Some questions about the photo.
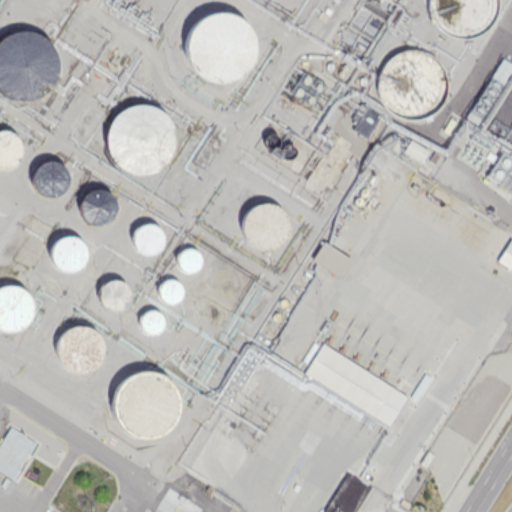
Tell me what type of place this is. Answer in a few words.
industrial area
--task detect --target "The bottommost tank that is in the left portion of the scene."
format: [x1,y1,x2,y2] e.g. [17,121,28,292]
[111,370,182,441]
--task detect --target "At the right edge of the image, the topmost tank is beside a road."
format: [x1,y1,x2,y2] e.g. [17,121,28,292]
[424,0,500,40]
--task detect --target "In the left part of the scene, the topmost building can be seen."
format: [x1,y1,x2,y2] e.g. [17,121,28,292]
[0,427,38,484]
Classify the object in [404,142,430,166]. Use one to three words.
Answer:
building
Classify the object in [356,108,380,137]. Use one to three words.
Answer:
shed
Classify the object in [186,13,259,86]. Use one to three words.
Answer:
storage tank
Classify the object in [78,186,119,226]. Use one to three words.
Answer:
storage tank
